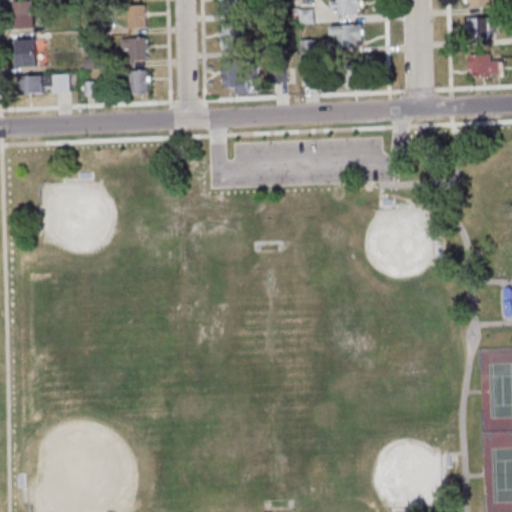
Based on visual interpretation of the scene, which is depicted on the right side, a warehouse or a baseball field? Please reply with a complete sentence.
There is a baseball field on the right side.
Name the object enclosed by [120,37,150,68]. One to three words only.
house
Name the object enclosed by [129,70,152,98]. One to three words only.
house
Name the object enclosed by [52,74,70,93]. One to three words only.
building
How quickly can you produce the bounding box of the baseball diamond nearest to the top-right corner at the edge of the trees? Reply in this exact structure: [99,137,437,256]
[365,204,436,278]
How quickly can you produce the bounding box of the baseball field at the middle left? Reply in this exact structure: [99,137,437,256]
[43,181,118,254]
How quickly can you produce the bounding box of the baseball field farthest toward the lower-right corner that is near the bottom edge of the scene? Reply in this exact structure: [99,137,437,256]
[374,438,442,508]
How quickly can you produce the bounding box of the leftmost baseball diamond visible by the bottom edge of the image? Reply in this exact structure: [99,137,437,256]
[36,420,138,512]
